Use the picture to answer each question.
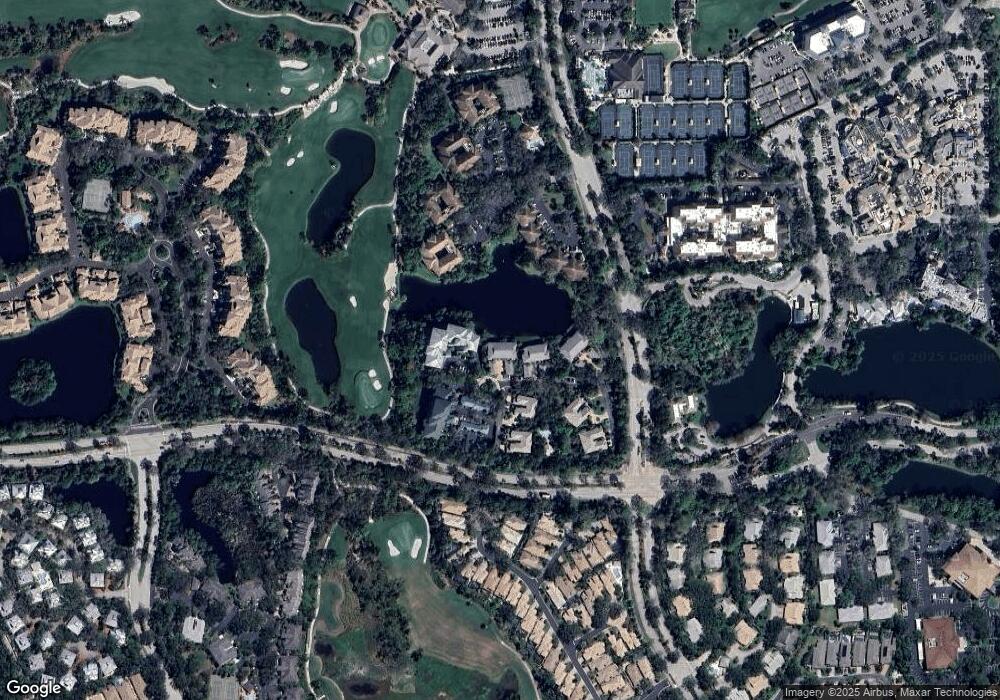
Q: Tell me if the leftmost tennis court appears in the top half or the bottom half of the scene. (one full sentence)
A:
You can find the leftmost tennis court in the top half.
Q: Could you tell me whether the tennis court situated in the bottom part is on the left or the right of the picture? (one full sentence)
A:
You can find the tennis court situated in the bottom part on the left side of the picture.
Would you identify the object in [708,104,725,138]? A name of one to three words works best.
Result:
tennis court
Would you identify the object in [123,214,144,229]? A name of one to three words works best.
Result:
swimming pool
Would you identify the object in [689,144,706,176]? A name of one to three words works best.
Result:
tennis court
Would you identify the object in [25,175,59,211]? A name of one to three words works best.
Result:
house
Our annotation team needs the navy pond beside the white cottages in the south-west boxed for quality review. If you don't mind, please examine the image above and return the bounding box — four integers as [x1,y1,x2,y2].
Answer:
[59,480,134,548]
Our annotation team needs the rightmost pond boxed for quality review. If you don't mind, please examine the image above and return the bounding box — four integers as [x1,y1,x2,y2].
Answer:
[884,462,1000,503]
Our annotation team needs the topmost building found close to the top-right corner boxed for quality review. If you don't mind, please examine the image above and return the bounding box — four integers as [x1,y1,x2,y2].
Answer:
[808,13,867,54]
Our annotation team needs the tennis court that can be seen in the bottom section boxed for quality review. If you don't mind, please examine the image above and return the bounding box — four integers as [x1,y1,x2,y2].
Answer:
[209,675,241,700]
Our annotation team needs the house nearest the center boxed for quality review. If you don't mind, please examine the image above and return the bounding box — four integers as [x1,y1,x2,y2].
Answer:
[487,342,517,375]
